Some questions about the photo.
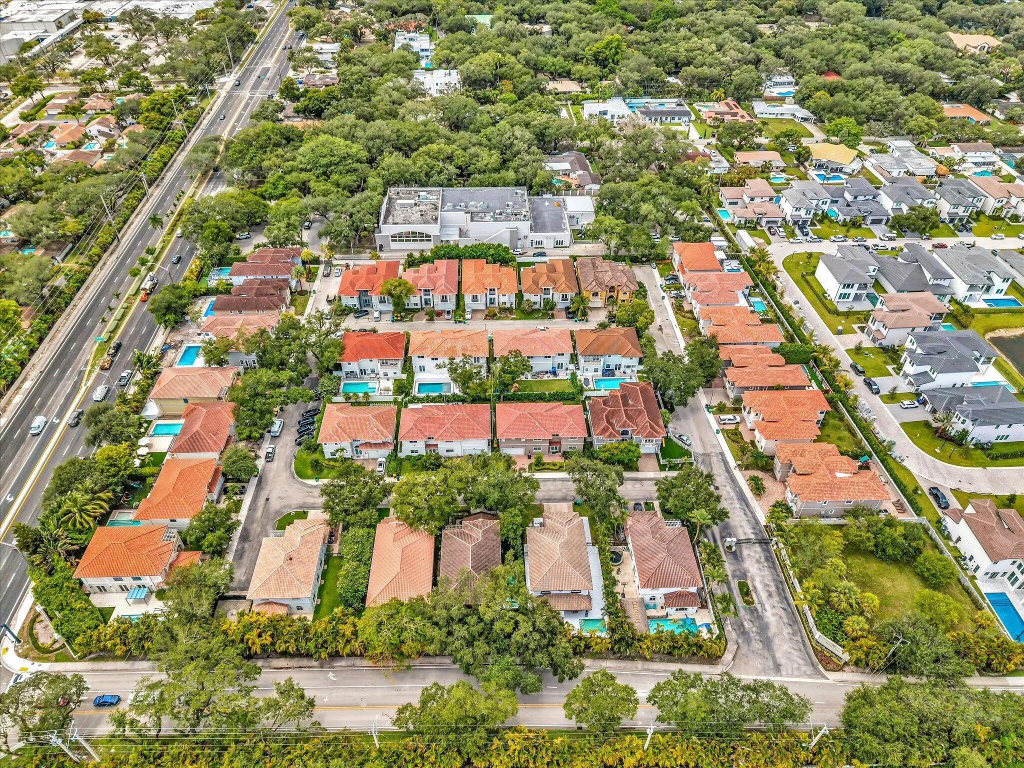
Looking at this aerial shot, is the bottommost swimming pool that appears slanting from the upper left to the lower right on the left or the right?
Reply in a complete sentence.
The bottommost swimming pool that appears slanting from the upper left to the lower right is on the right side of the image.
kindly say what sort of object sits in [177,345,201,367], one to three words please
swimming pool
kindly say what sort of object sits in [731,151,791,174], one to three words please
house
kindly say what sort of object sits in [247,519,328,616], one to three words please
house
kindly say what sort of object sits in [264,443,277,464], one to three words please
vehicle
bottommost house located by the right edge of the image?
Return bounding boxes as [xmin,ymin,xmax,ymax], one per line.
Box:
[943,499,1024,578]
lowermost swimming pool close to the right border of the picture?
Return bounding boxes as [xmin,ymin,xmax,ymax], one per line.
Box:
[983,590,1024,636]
